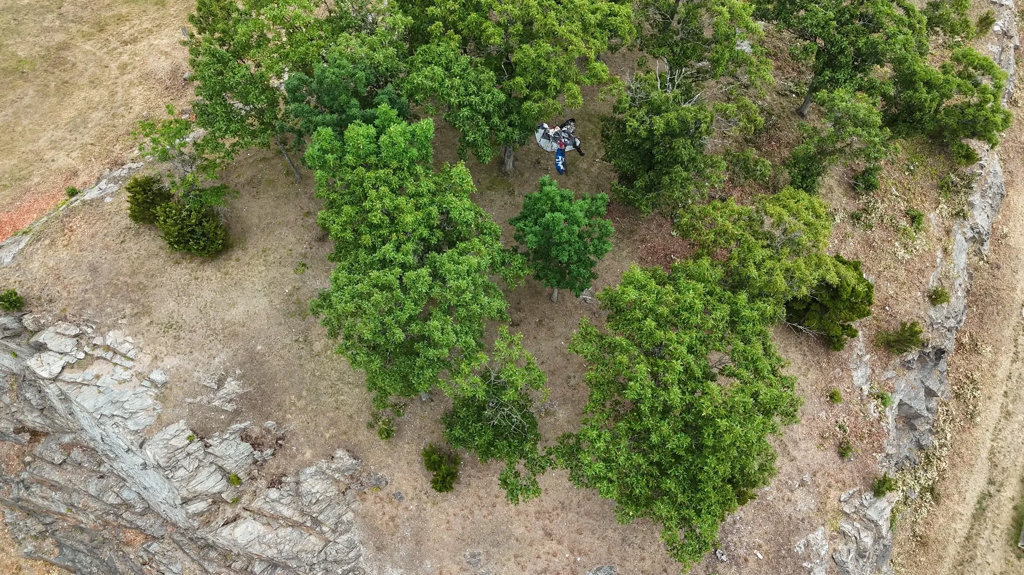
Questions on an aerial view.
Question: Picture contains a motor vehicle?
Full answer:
No, there is no motor vehicle in the image.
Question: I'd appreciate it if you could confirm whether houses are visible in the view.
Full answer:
No, I can see no house in this picture.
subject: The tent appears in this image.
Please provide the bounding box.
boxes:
[535,124,580,151]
